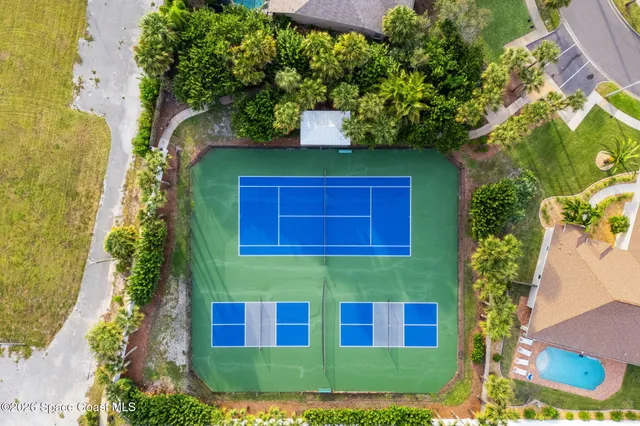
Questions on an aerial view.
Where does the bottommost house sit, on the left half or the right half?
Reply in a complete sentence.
The bottommost house is on the right side of the image.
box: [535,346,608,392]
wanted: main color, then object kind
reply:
blue swimming pool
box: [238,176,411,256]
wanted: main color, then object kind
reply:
blue tennis court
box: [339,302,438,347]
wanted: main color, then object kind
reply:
blue sports court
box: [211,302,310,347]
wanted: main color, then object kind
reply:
blue sports court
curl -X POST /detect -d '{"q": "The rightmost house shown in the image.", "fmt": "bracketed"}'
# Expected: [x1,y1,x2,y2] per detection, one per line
[521,153,640,365]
